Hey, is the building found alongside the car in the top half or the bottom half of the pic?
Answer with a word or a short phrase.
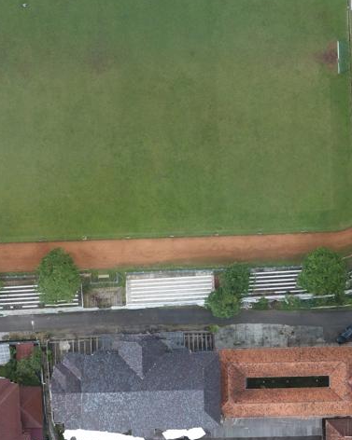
bottom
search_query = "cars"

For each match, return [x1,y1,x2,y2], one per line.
[336,326,352,346]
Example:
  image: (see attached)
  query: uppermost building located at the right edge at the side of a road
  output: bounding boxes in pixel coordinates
[220,344,352,419]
